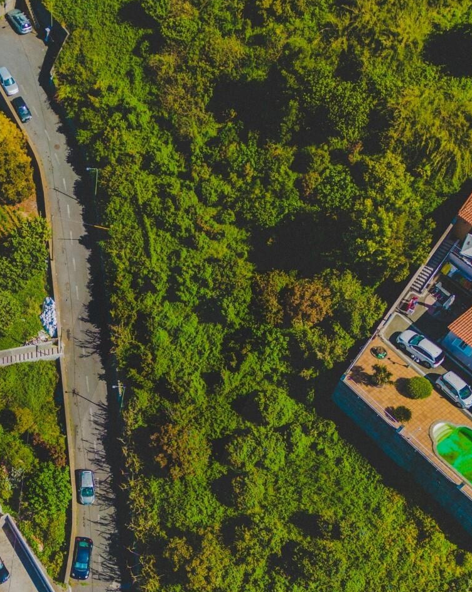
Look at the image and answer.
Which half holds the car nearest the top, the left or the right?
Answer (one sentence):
You can find the car nearest the top on the left side of the picture.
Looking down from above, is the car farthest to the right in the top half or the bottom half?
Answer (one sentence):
Seen from above, the car farthest to the right lies in the bottom half of the view.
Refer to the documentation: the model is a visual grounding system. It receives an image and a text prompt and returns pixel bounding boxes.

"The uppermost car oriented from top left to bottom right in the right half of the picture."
[394,330,446,370]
